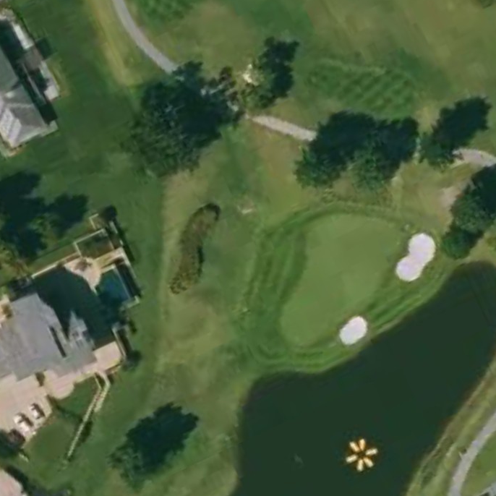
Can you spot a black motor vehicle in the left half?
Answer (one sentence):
No, no black motor vehicle appears in the left half.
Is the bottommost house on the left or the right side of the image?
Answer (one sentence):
The bottommost house sits on the left side.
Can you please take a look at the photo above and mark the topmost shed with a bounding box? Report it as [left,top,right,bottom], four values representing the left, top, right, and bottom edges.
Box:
[19,40,44,67]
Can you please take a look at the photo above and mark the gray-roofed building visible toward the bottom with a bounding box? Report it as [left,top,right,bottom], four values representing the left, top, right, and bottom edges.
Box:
[0,280,102,381]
